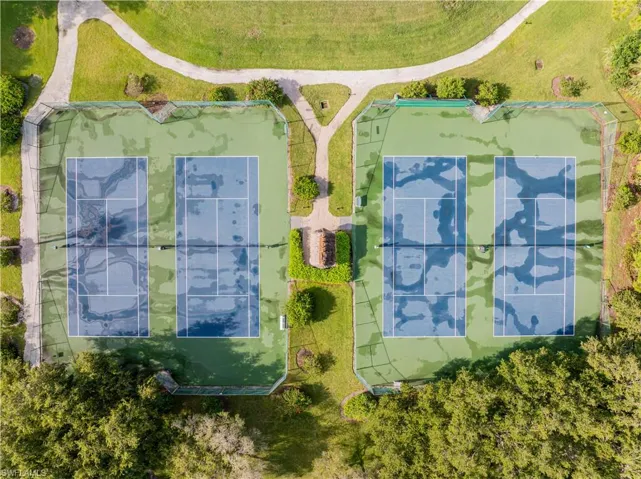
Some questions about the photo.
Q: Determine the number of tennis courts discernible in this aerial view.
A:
4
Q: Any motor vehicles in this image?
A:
No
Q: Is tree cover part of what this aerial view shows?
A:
Yes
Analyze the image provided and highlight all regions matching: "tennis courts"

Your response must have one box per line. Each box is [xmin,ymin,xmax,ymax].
[383,156,467,337]
[66,157,150,337]
[494,157,577,336]
[175,157,260,337]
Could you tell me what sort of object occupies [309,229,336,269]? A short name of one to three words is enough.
shed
